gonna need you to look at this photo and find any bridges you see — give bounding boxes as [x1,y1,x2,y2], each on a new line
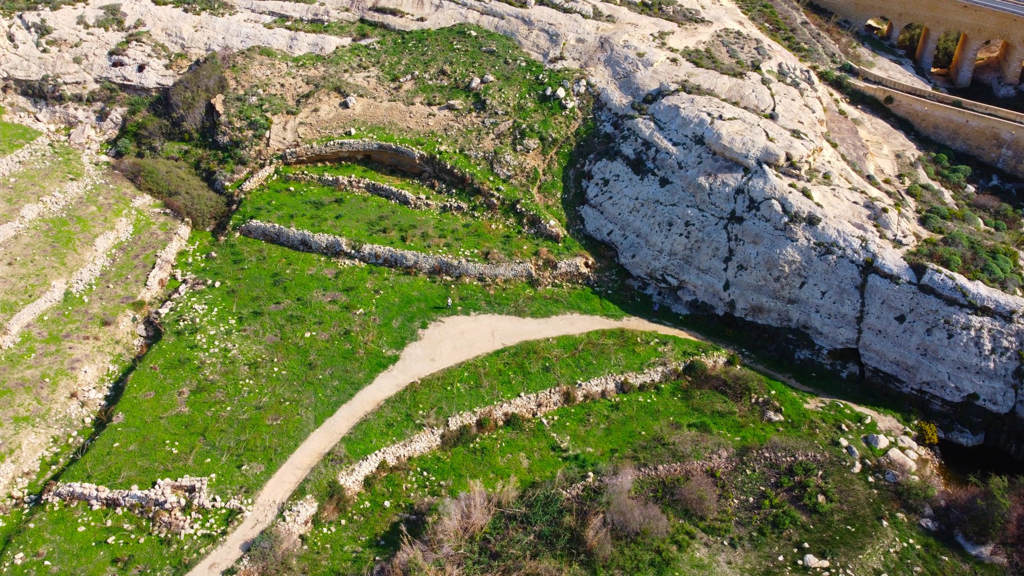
[837,0,1024,97]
